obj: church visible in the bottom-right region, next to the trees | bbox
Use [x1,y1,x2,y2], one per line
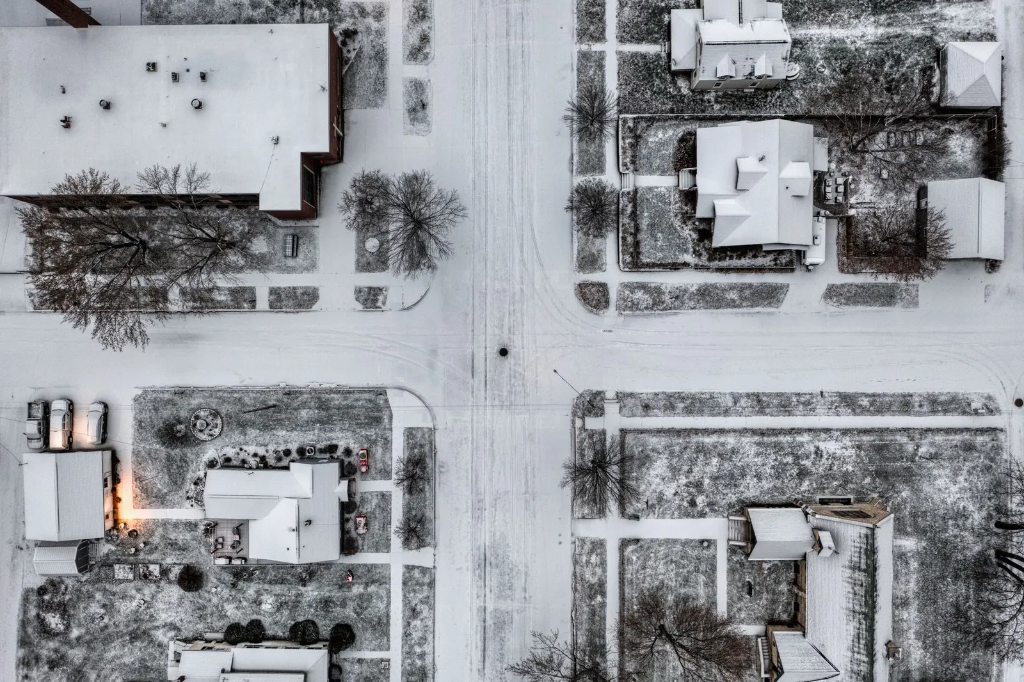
[726,493,901,682]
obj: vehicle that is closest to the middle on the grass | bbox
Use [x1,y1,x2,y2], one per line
[357,449,369,472]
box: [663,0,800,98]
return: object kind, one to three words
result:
house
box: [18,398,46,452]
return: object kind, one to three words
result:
truck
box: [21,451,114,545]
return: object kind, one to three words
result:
building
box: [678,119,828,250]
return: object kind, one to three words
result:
house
